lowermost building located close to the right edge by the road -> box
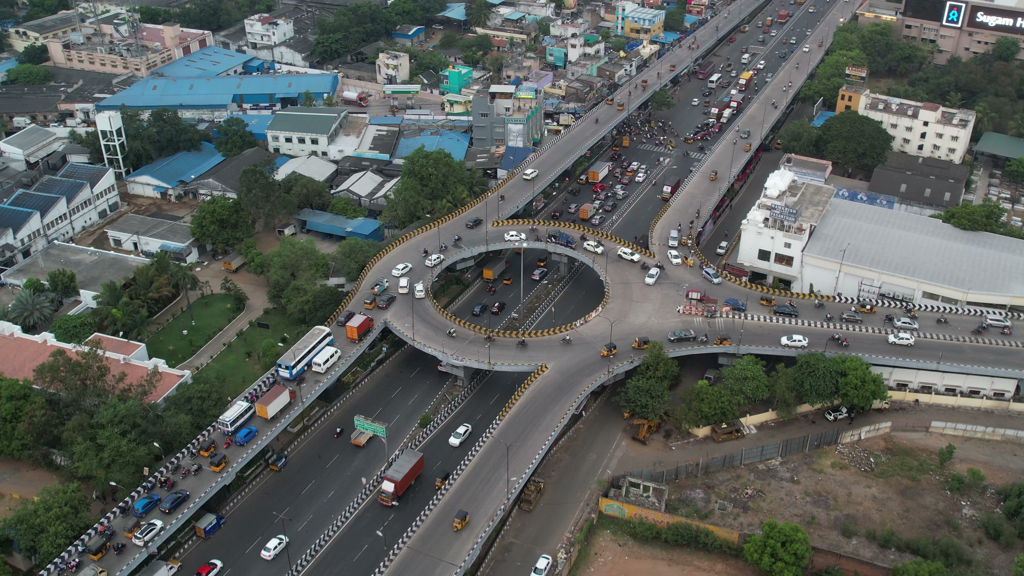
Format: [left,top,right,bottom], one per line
[883,370,1021,412]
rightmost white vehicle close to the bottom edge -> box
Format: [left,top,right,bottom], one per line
[530,550,554,576]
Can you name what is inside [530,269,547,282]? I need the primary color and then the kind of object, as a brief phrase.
gray vehicle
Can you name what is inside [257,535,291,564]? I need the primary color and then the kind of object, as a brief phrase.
white car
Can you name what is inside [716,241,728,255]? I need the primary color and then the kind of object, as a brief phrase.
white vehicle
